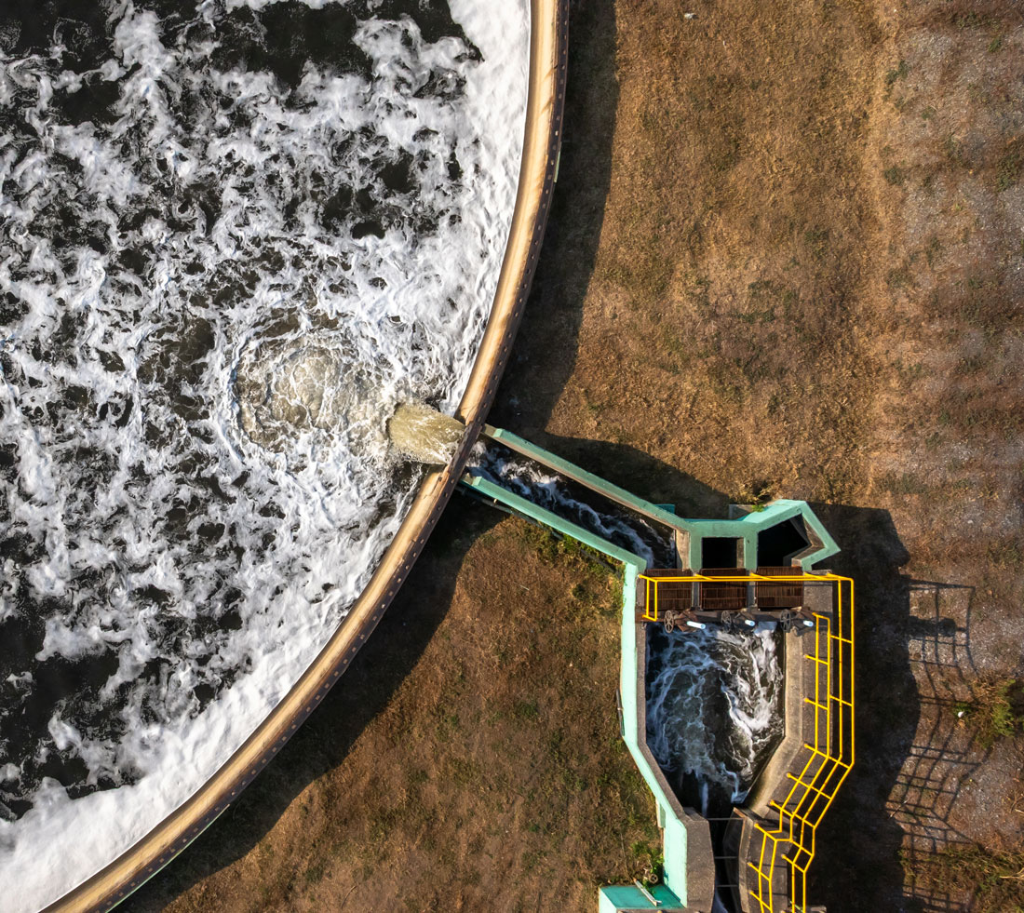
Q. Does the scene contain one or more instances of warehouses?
No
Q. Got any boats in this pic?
No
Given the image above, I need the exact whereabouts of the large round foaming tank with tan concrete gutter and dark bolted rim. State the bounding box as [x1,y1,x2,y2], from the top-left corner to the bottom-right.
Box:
[34,0,571,913]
